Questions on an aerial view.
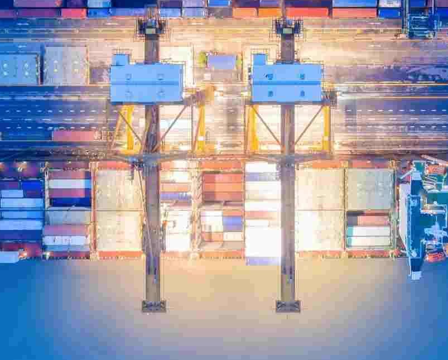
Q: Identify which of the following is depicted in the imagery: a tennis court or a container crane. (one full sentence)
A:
The one in the frame is a container crane.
